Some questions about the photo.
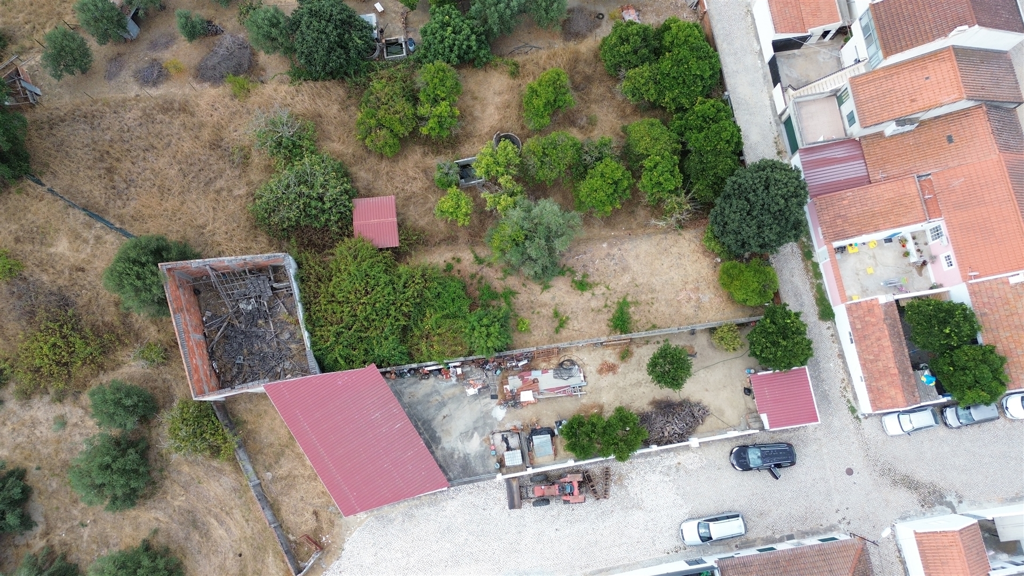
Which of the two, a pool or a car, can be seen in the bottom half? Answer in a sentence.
What appears in the bottom half is a car.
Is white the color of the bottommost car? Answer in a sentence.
Yes, white is the color of the bottommost car.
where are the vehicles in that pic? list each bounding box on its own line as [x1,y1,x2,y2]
[507,472,585,509]
[878,406,942,437]
[939,400,1003,434]
[998,392,1024,417]
[679,511,749,547]
[729,442,798,481]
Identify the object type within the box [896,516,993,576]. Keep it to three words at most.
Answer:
house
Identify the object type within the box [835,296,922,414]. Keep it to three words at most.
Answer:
house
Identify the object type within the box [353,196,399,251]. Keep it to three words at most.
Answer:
shed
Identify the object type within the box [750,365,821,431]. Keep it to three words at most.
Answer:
shed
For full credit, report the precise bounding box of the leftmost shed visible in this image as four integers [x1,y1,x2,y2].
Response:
[0,54,42,104]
